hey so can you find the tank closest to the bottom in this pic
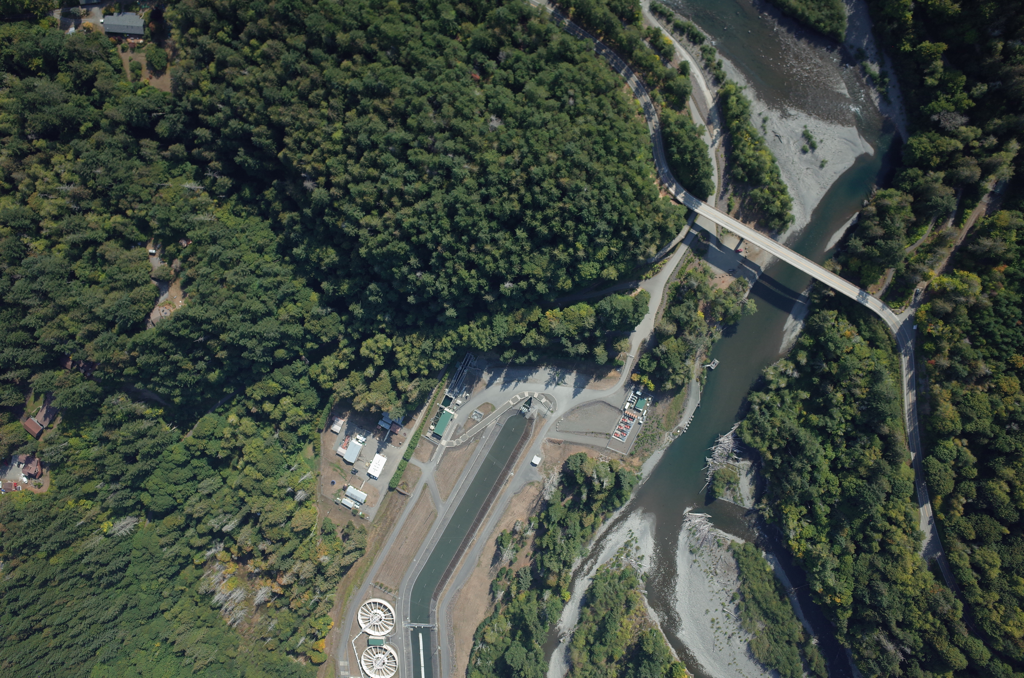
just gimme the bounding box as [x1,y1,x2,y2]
[363,646,397,678]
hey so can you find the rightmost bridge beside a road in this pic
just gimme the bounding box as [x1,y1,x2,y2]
[690,199,874,307]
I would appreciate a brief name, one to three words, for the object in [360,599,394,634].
storage tank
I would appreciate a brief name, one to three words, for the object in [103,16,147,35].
house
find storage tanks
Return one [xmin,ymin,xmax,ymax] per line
[363,646,397,678]
[360,599,394,634]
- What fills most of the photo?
trees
